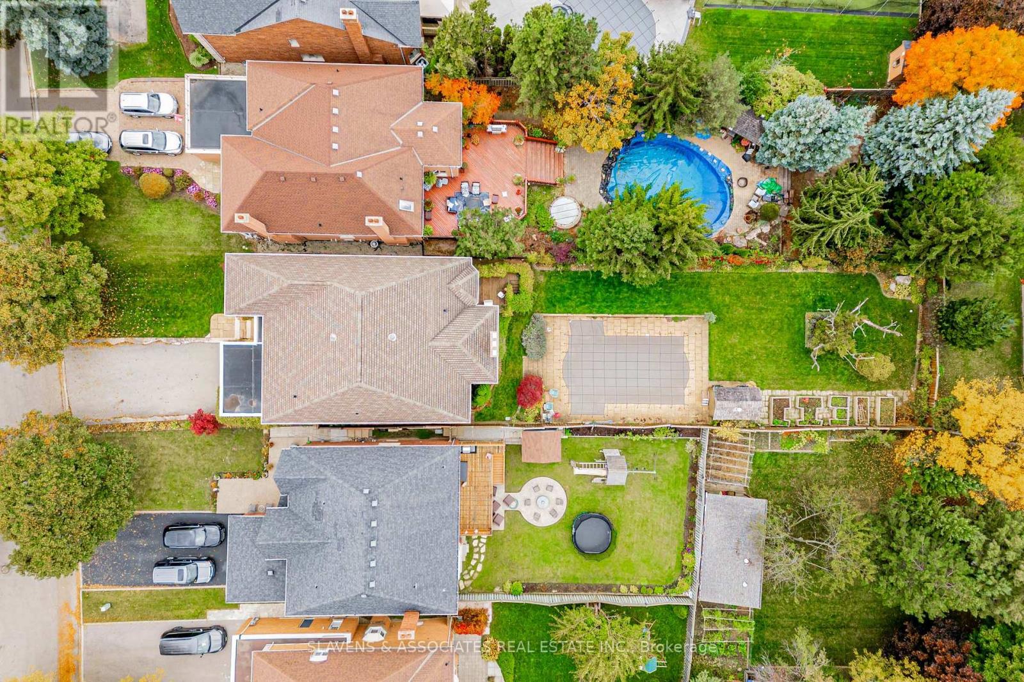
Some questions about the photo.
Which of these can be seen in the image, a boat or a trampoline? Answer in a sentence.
Looking from above, you can make out a trampoline.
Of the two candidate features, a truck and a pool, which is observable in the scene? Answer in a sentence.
I can see a pool in this picture.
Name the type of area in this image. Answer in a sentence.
This image shows a residential area.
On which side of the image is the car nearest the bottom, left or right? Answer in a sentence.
You can find the car nearest the bottom on the left side of the picture.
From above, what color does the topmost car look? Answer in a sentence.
From above, the topmost car appears white.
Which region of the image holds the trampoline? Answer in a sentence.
The trampoline is in the bottom part of the image.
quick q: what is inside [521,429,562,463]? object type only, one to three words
shed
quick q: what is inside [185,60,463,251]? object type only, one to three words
house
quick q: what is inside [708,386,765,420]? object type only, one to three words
shed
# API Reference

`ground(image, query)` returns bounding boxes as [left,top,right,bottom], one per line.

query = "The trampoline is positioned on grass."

[569,516,615,566]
